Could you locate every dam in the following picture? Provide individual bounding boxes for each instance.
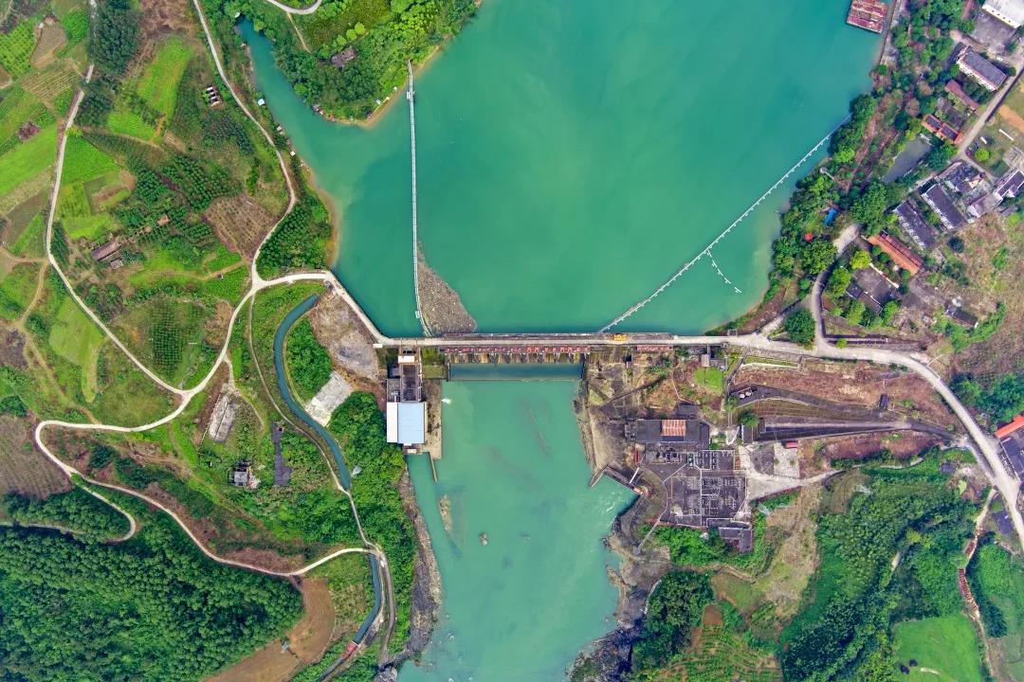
[324,272,675,382]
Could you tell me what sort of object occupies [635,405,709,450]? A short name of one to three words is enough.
building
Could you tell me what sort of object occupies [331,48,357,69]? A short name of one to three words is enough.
house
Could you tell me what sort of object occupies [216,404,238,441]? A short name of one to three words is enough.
barn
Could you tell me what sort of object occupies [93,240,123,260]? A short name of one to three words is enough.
shed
